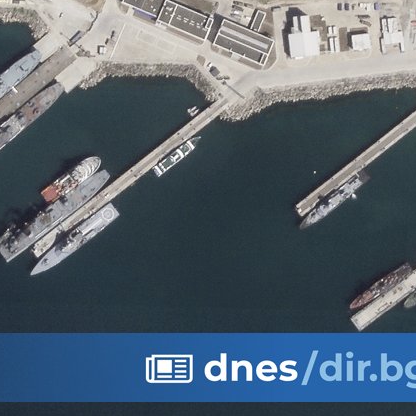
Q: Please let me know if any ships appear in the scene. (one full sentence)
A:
Yes, there's a ship here.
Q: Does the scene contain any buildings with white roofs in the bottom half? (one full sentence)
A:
No, in the bottom half there is no building with a white roof.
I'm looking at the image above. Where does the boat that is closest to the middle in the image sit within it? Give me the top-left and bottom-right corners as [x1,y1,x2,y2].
[152,137,200,176]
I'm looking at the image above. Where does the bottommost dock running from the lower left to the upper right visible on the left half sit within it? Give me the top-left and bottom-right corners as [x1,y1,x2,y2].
[31,95,233,256]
